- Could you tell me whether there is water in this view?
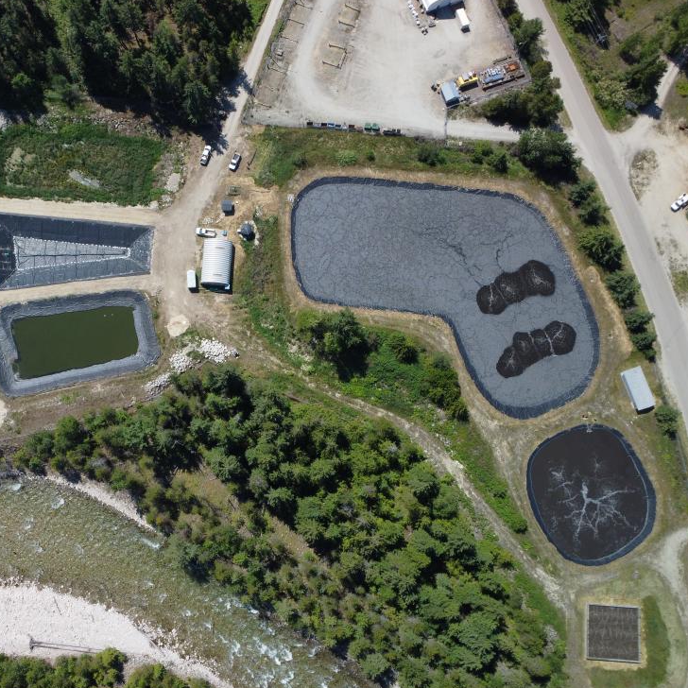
Yes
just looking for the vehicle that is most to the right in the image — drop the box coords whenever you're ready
[670,191,688,209]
